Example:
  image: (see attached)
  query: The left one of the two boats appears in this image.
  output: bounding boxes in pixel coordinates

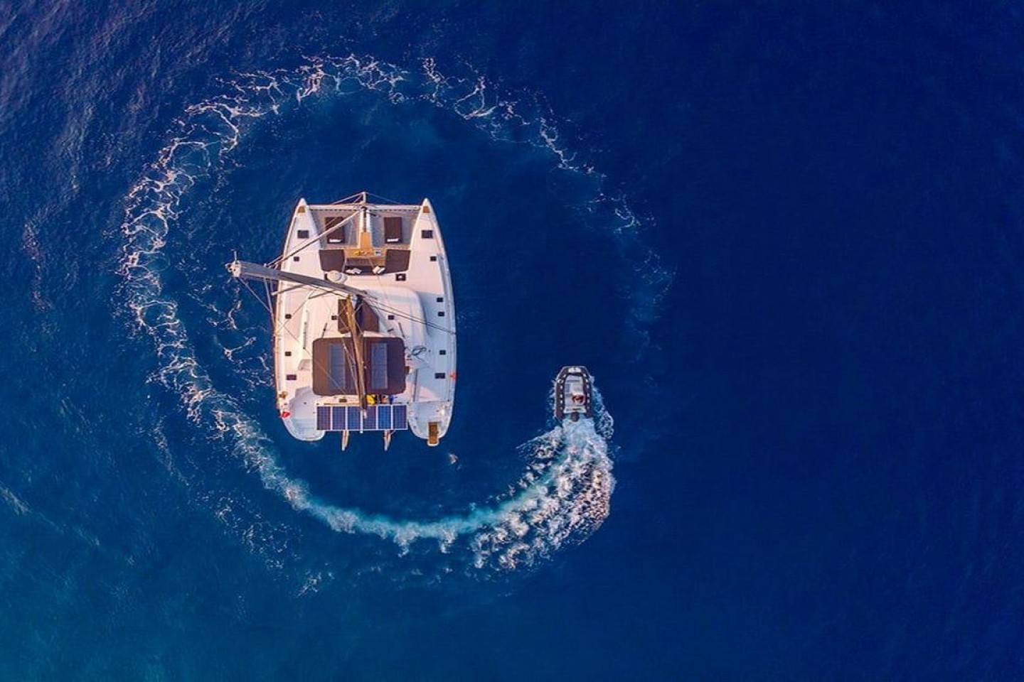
[226,192,456,451]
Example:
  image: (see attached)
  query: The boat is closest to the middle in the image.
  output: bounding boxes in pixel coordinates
[556,365,593,421]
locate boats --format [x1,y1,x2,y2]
[226,192,456,451]
[556,365,593,421]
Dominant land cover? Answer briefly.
water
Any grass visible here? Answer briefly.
No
